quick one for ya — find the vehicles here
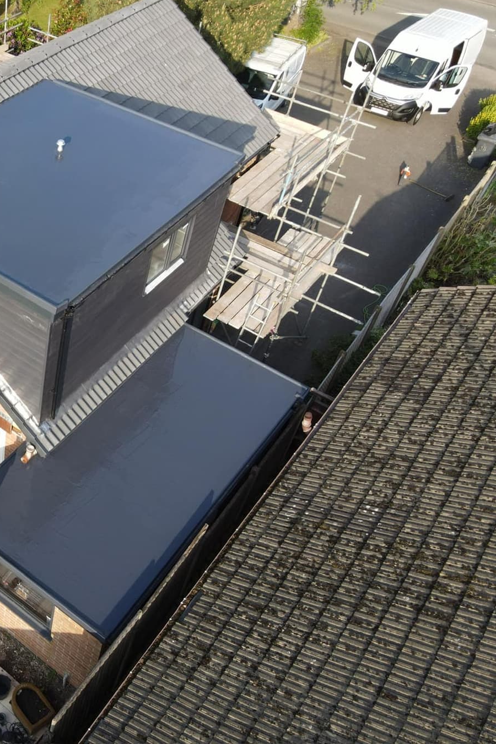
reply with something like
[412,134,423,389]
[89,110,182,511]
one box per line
[336,5,488,129]
[230,32,310,115]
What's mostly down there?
buildings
